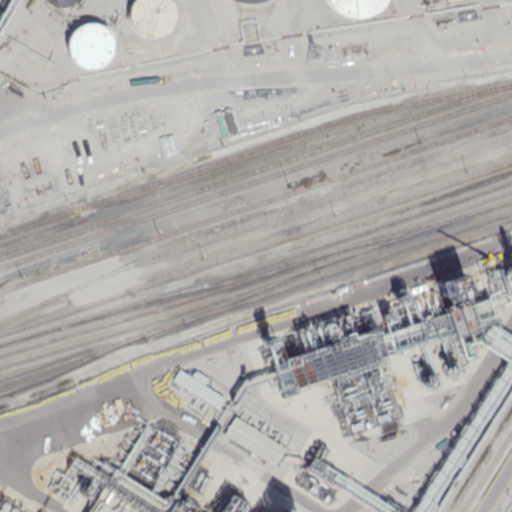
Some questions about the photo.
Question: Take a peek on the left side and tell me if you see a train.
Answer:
No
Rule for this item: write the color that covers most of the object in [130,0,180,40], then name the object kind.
white storage tank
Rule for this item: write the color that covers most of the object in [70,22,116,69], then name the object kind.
white storage tank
